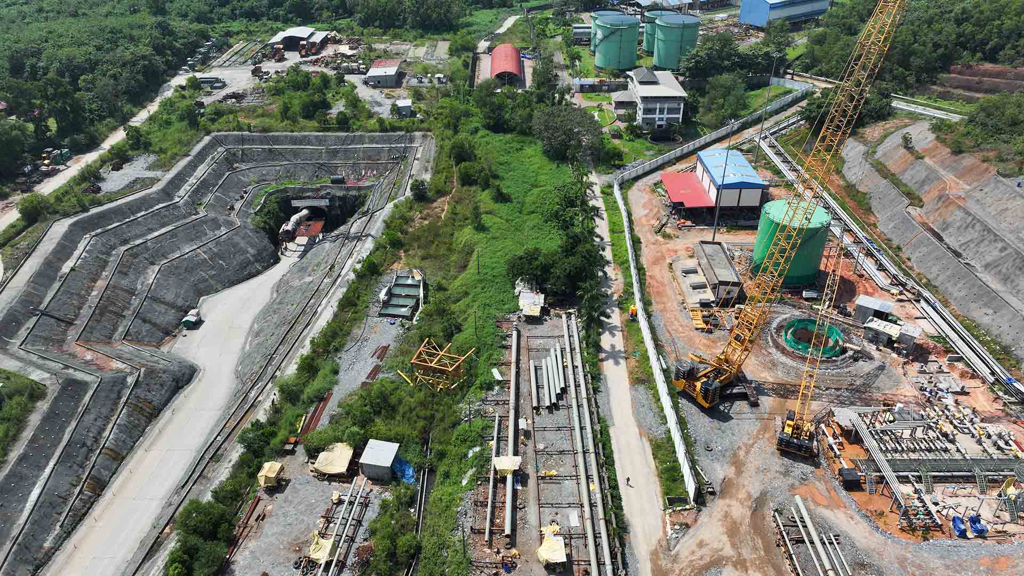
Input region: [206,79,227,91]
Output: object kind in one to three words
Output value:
vehicle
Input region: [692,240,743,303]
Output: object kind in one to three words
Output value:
building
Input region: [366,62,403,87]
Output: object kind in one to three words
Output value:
building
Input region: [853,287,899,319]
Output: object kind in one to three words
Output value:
shed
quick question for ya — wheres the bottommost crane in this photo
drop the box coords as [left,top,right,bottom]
[778,241,835,457]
